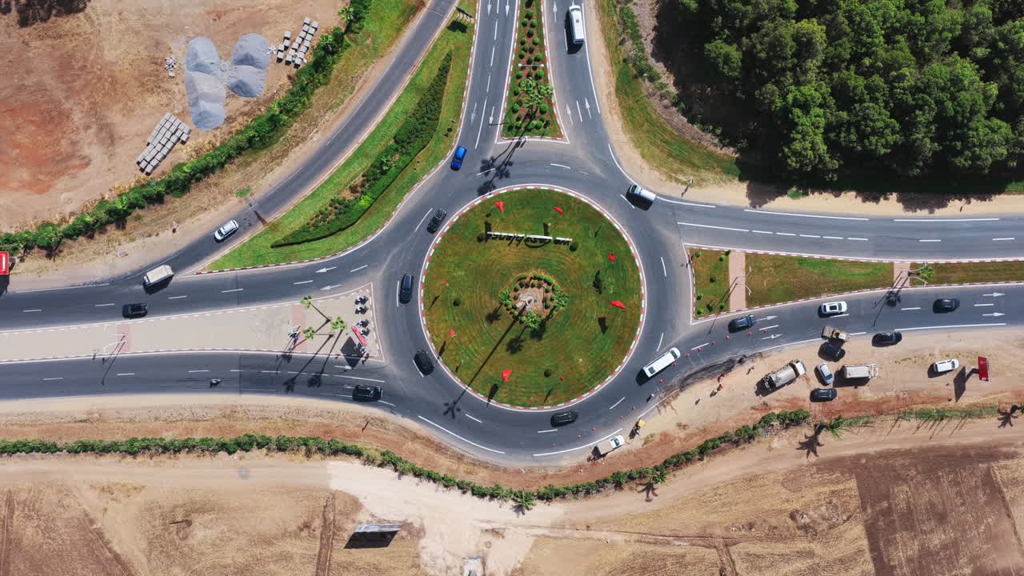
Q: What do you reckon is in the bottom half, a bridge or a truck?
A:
truck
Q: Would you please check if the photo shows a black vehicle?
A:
Yes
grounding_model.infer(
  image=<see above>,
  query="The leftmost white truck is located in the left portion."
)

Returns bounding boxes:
[145,263,177,286]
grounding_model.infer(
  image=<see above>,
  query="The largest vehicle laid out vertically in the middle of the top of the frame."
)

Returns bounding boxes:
[569,6,583,45]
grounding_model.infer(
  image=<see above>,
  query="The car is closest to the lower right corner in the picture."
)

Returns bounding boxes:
[931,358,958,373]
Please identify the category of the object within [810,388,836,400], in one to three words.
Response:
vehicle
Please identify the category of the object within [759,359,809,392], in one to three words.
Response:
truck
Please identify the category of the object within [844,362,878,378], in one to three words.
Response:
vehicle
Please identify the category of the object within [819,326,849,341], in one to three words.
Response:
work vehicle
